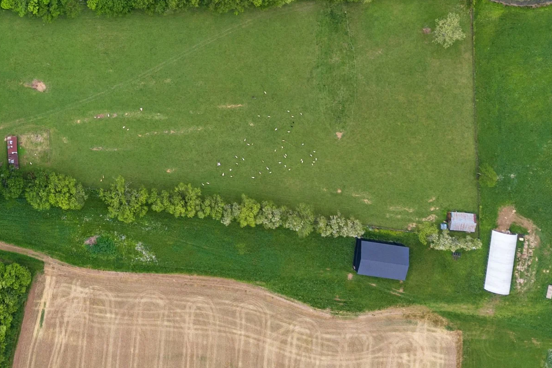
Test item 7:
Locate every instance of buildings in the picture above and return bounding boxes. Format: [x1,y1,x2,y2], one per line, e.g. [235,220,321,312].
[353,238,411,282]
[484,231,519,297]
[447,211,478,232]
[4,136,19,168]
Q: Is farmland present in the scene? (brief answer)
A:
Yes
